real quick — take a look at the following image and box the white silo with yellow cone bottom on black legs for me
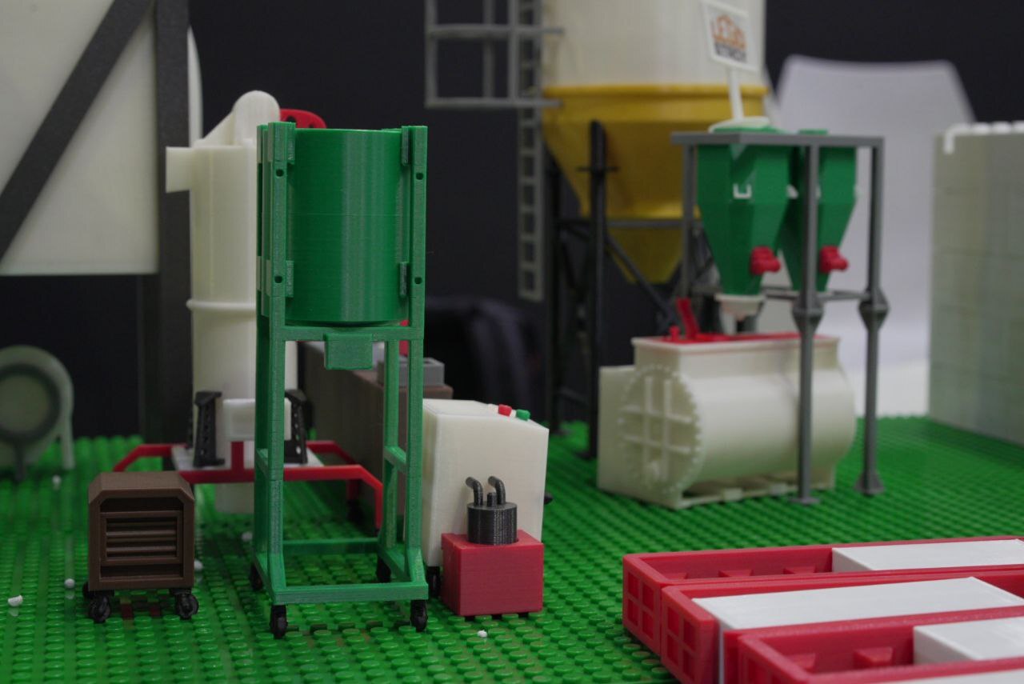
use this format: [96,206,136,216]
[424,0,767,460]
